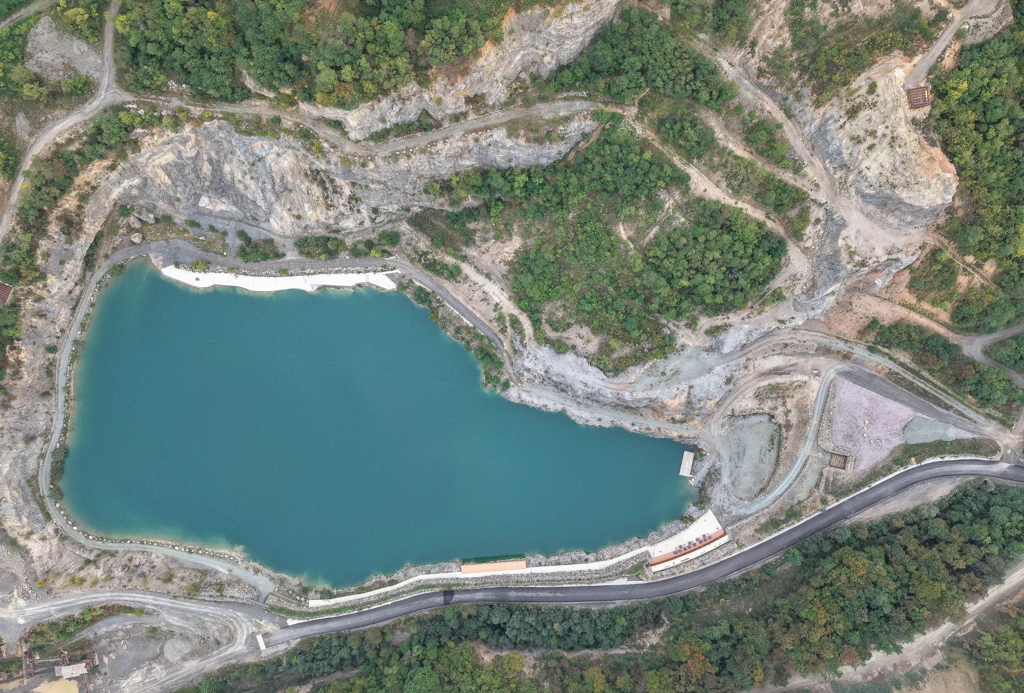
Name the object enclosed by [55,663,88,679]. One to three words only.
house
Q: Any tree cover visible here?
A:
Yes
